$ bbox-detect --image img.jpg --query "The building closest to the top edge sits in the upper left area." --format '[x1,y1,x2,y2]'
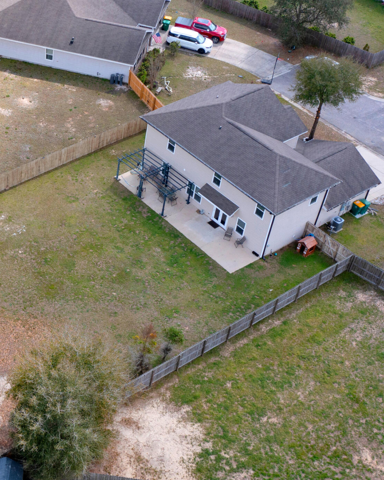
[0,0,169,81]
